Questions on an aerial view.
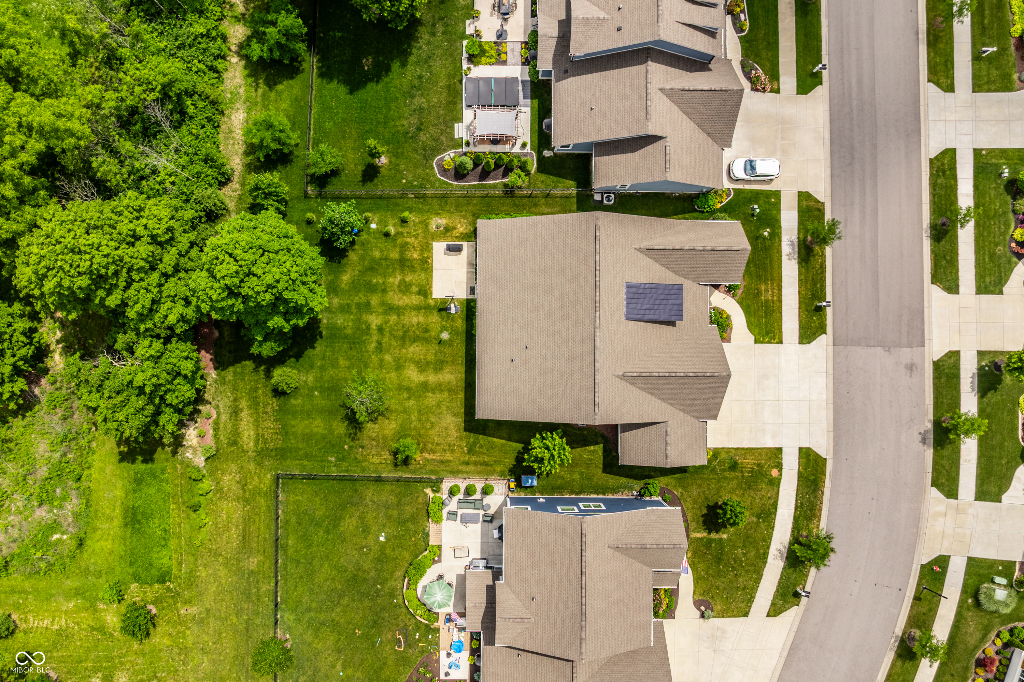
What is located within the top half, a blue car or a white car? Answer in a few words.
white car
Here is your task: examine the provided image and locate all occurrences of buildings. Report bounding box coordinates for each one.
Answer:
[1005,646,1024,682]
[475,211,752,468]
[536,0,744,193]
[465,496,688,682]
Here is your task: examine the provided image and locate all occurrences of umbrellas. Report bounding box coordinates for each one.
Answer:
[423,580,454,610]
[496,18,507,39]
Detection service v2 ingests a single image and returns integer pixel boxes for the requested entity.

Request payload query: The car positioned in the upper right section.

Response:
[727,155,781,182]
